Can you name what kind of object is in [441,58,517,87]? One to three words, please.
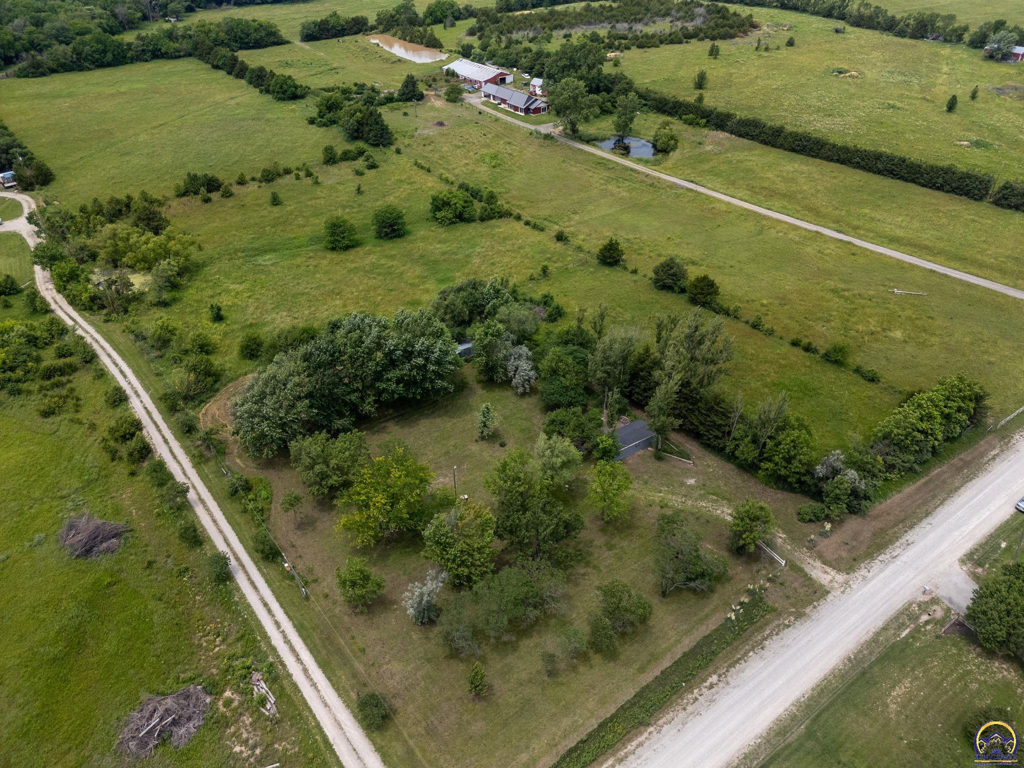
barn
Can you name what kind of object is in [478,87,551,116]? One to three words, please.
house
